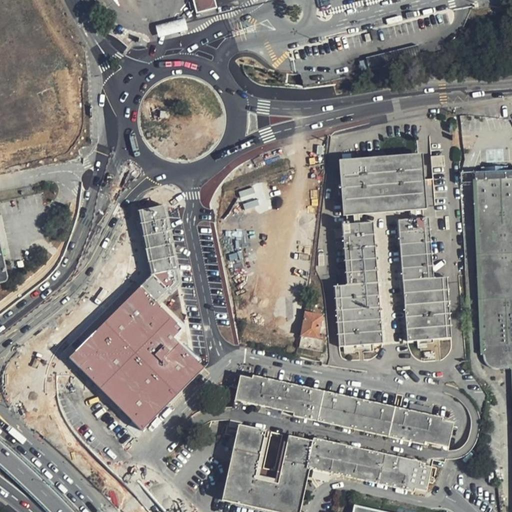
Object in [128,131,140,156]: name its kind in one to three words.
vehicle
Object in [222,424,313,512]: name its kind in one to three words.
building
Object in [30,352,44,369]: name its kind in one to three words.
vehicle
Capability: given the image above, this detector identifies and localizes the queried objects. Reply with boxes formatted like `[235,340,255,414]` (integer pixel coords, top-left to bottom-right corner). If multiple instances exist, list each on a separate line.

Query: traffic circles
[116,52,248,184]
